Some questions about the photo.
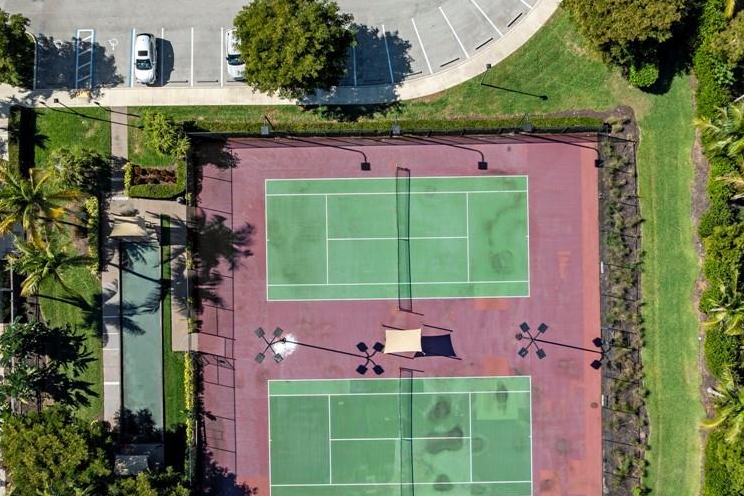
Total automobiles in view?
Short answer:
2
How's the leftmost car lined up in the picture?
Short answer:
from top to bottom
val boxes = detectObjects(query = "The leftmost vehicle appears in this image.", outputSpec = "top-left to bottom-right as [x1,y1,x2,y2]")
[131,32,158,86]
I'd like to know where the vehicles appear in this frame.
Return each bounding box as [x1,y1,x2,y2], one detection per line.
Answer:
[131,32,158,86]
[223,29,249,84]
